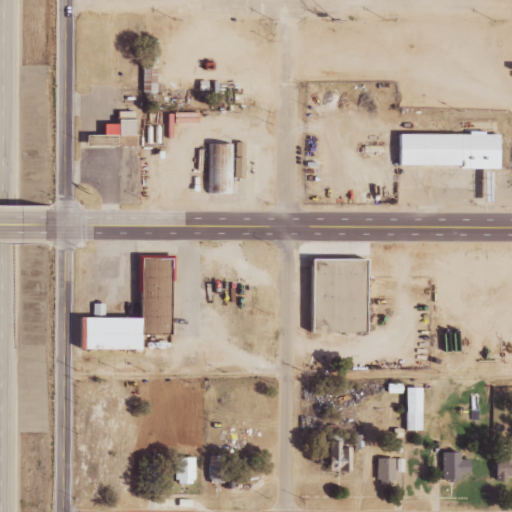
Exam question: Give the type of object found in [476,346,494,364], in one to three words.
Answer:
work vehicle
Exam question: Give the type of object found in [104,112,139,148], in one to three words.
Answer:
building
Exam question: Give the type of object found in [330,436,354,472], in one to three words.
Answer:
house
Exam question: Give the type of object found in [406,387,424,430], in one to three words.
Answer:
barn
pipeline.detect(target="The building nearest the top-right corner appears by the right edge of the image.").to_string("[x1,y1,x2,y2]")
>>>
[399,131,502,169]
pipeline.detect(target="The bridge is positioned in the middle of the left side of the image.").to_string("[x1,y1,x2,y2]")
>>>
[0,206,46,244]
